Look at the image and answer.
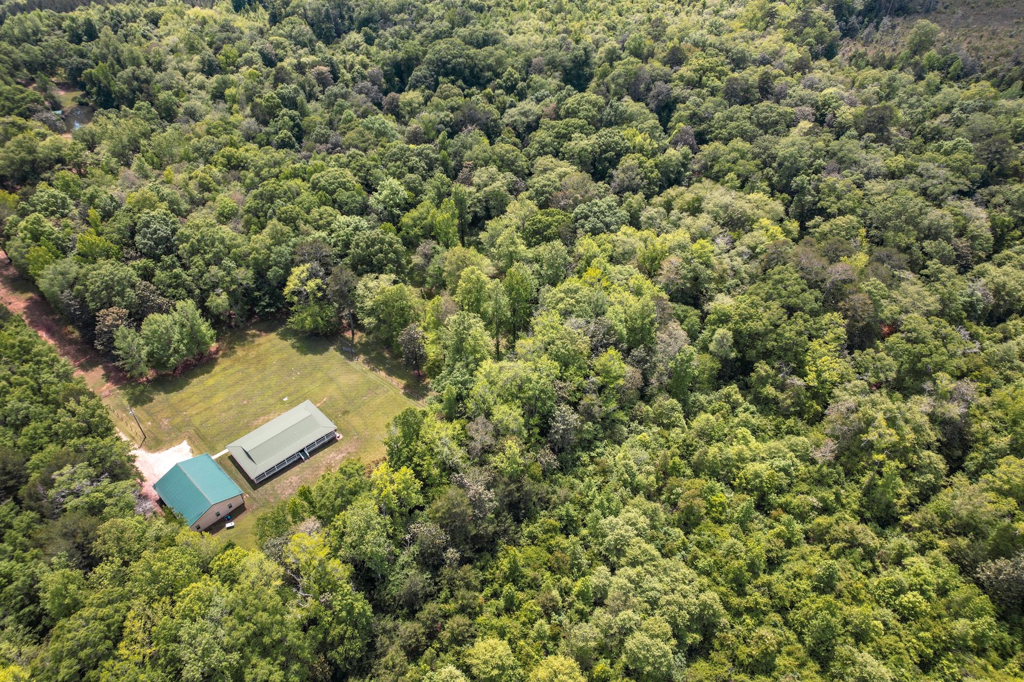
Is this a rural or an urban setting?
rural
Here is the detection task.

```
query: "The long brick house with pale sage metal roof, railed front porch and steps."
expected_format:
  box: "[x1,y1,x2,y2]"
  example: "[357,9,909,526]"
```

[226,399,337,485]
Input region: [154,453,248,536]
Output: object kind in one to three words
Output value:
barn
